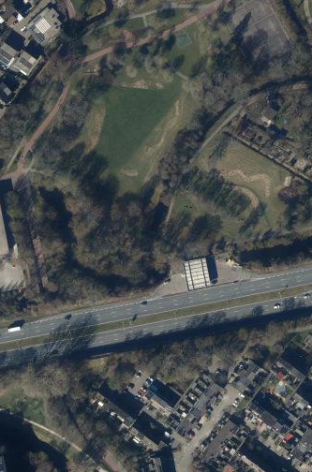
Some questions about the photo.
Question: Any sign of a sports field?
Yes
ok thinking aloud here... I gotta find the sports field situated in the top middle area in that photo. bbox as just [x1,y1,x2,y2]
[94,80,186,173]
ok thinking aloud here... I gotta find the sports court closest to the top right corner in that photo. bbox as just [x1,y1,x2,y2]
[237,0,289,50]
